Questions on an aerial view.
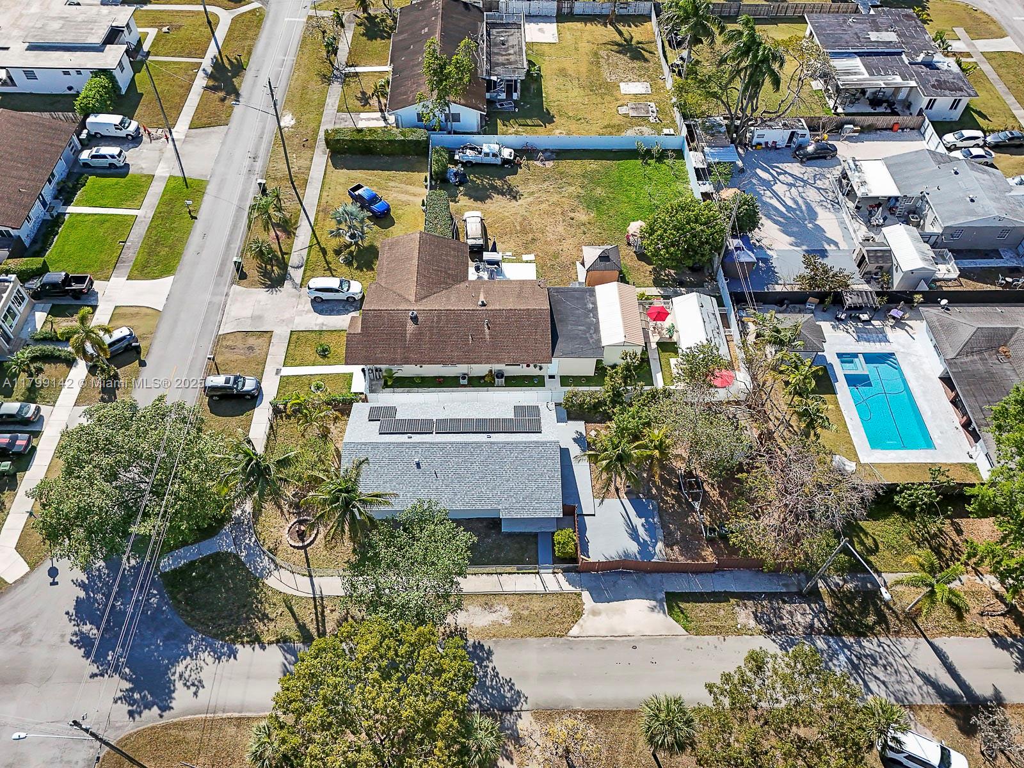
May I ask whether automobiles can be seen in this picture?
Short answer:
Yes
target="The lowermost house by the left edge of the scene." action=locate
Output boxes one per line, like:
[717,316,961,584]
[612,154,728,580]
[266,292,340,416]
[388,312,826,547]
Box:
[0,274,34,358]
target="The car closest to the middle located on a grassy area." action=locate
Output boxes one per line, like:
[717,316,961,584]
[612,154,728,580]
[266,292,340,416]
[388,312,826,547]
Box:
[459,207,484,244]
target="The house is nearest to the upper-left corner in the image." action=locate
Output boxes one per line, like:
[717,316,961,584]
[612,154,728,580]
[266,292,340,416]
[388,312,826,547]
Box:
[0,0,145,94]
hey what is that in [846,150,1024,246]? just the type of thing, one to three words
house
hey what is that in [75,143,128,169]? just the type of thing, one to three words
car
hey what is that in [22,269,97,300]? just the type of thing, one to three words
truck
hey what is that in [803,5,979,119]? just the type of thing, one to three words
house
